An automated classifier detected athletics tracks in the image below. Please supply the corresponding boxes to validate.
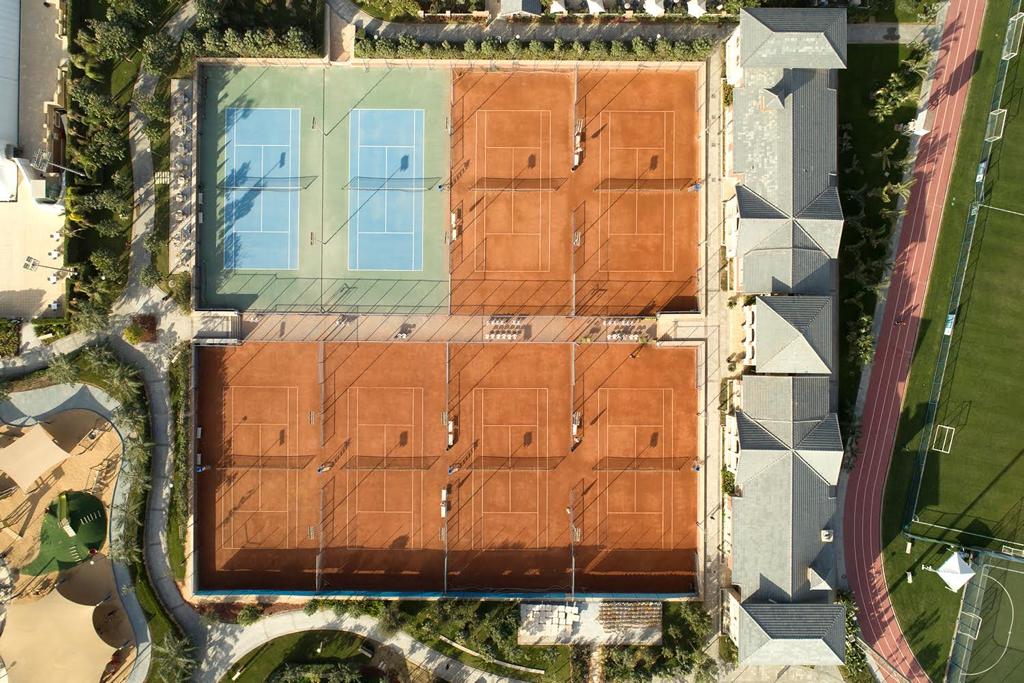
[842,0,989,683]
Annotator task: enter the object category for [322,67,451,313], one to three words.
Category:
tennis court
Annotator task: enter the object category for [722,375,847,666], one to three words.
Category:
building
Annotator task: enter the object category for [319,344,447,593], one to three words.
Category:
tennis court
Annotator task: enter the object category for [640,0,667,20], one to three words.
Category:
umbrella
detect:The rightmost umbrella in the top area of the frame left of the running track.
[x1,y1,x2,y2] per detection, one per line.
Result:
[683,0,710,21]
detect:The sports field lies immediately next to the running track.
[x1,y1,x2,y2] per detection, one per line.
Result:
[899,0,1024,566]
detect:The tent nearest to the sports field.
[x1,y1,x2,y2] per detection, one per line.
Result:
[926,550,978,598]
